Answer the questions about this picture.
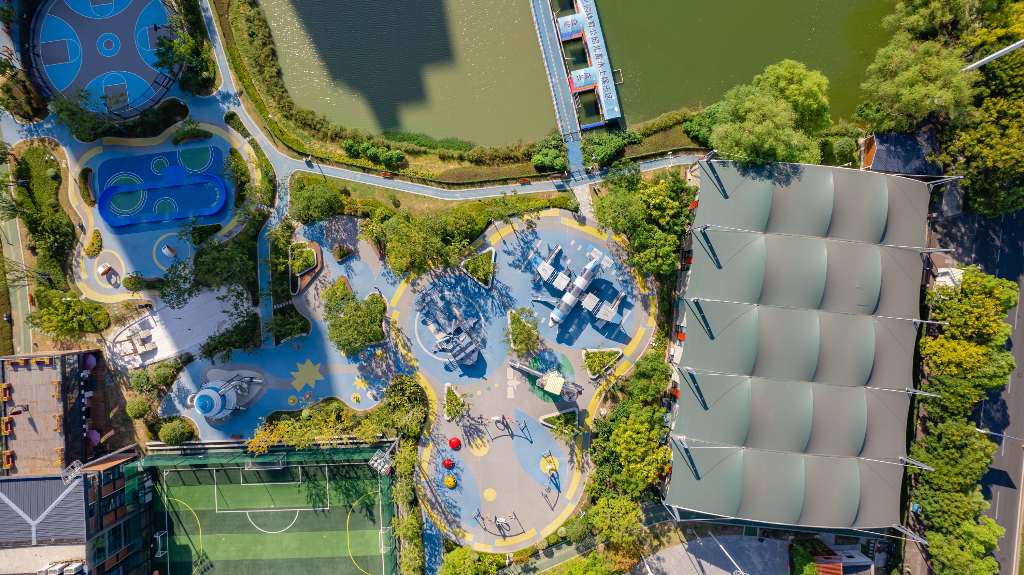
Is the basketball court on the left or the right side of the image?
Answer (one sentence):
The basketball court appears in the left half of the scene.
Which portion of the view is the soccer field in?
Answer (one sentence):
Look in the bottom left portion of the view to spot the soccer field.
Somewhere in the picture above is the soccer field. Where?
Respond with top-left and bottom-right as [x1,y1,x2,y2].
[153,449,400,575]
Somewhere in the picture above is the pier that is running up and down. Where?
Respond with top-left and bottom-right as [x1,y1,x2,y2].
[557,0,621,130]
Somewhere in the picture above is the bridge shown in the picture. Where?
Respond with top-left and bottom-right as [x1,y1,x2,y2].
[528,0,586,170]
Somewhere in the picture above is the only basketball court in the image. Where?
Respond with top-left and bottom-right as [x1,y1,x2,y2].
[30,0,186,123]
